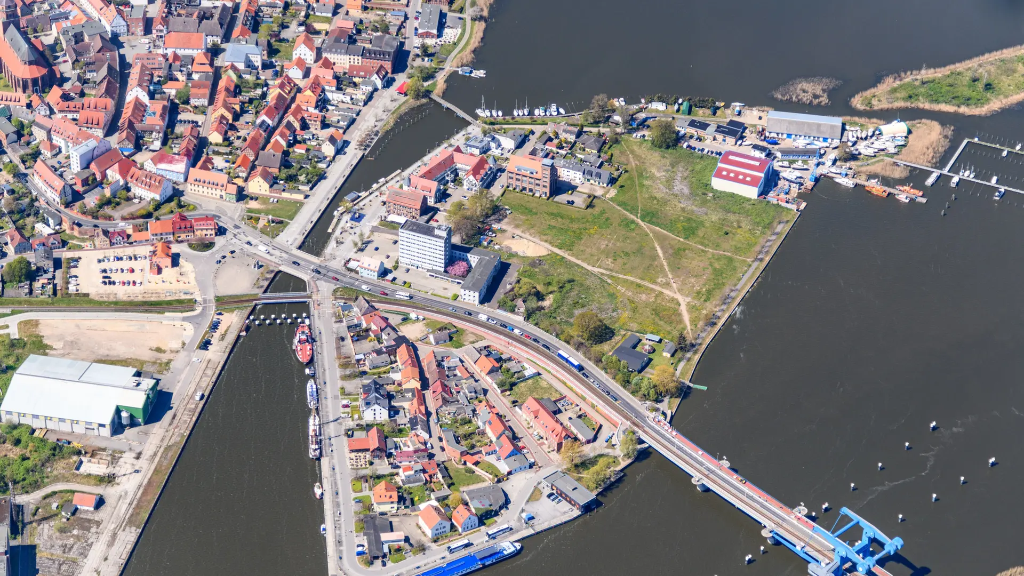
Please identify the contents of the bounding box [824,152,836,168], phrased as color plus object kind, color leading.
white boat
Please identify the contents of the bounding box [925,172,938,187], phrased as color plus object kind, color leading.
white boat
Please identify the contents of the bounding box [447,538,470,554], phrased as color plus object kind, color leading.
white vehicle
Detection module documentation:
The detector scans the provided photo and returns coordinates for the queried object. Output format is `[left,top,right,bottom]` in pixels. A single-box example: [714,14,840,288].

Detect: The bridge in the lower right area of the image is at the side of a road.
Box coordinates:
[631,419,906,576]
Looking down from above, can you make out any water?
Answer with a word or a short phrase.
Yes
